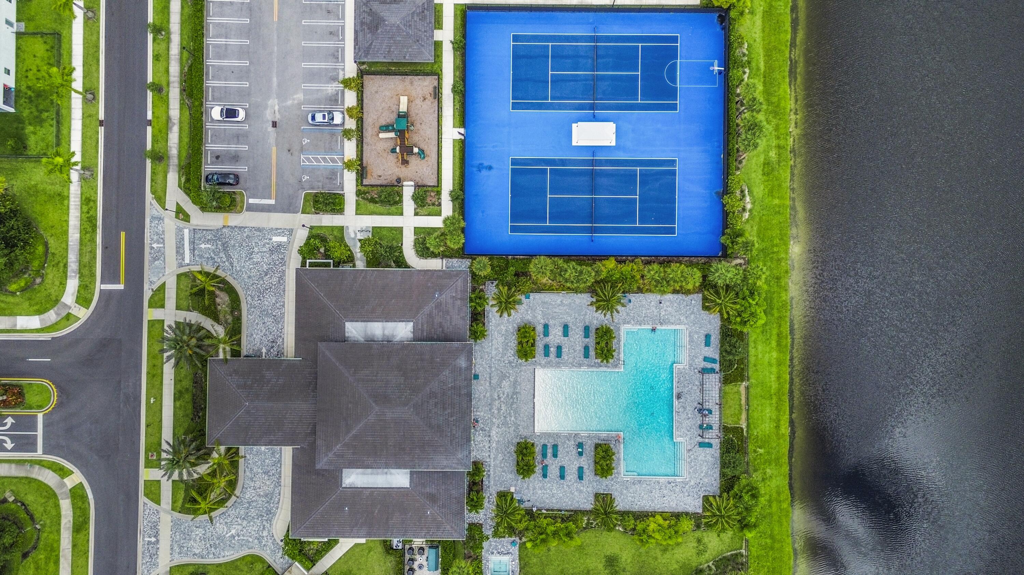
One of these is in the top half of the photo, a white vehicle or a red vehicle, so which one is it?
white vehicle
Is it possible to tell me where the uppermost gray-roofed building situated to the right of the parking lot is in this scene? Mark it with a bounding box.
[354,0,435,62]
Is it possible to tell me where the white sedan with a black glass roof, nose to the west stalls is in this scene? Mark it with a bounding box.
[210,104,245,121]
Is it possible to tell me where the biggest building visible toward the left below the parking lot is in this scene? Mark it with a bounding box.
[206,268,473,540]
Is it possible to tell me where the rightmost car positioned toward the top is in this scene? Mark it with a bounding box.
[307,108,343,125]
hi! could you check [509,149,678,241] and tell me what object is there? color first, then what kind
blue tennis court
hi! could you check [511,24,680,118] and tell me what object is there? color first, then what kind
blue tennis court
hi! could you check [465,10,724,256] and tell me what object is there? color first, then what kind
blue sports court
